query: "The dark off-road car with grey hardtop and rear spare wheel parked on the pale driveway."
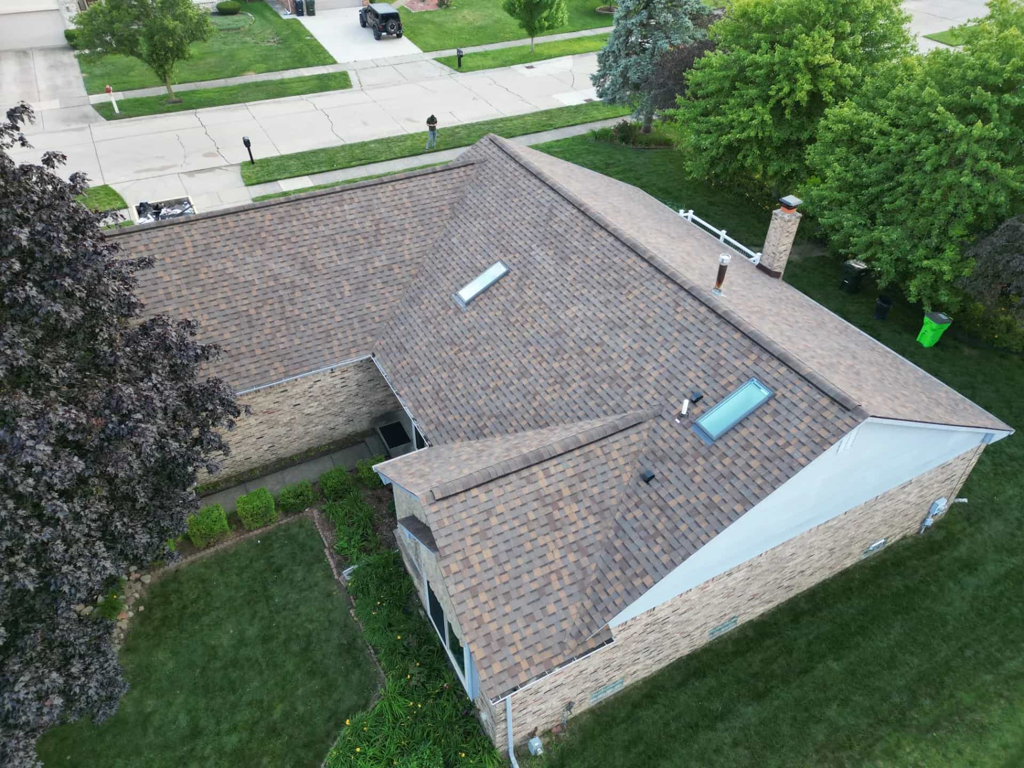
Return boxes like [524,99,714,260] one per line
[359,3,400,37]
